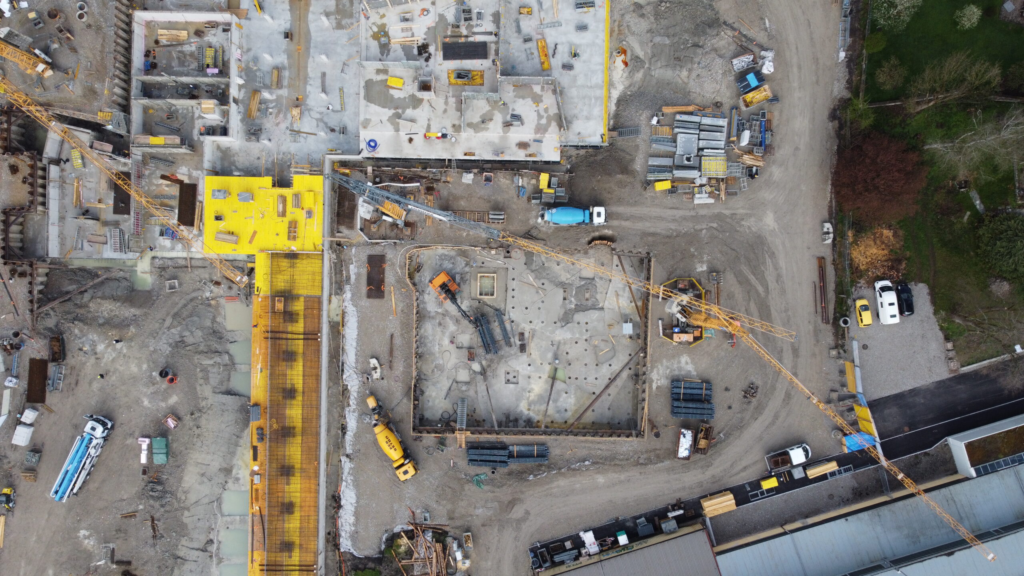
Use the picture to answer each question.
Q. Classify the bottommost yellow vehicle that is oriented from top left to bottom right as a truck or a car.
truck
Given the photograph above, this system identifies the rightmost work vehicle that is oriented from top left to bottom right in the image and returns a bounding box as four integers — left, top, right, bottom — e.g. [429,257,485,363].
[427,269,485,333]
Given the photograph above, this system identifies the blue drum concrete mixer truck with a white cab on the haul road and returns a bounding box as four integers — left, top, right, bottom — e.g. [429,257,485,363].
[535,204,608,227]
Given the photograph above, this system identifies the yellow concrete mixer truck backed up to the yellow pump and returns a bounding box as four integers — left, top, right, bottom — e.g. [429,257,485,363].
[370,418,422,489]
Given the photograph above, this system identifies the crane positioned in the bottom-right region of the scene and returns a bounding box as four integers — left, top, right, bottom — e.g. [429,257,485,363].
[658,280,999,564]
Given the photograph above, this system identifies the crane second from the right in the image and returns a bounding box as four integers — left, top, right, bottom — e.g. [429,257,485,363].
[315,169,800,342]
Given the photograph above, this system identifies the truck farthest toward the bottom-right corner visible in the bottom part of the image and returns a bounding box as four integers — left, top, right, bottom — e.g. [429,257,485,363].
[764,446,813,473]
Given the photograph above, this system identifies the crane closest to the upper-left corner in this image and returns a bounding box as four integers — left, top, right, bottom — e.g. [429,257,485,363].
[0,29,252,290]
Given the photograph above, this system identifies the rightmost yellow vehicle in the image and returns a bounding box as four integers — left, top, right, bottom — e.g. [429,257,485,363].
[854,299,872,328]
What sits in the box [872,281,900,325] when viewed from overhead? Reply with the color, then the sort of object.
white van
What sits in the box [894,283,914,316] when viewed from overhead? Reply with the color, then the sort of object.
black car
